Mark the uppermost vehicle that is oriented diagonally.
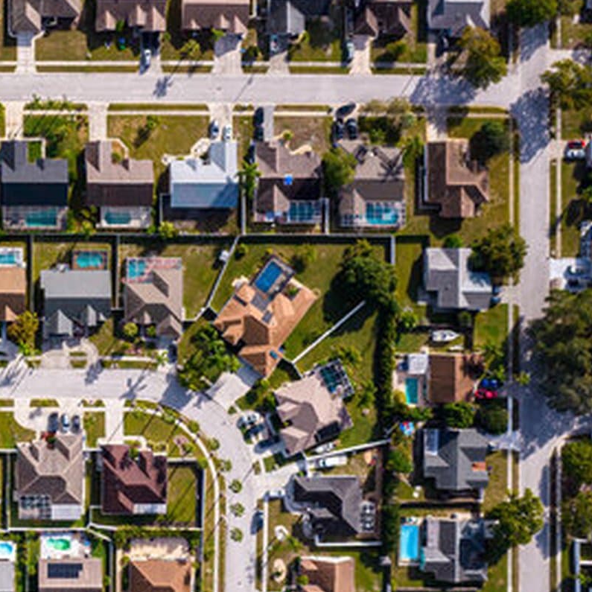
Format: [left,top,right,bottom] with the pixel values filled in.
[336,101,355,117]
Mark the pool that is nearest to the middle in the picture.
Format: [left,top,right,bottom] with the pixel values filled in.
[250,242,298,294]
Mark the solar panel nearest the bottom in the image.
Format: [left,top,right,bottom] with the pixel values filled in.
[48,564,80,582]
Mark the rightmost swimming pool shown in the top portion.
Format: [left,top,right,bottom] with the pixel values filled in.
[340,201,407,227]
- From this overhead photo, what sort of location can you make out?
residential area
